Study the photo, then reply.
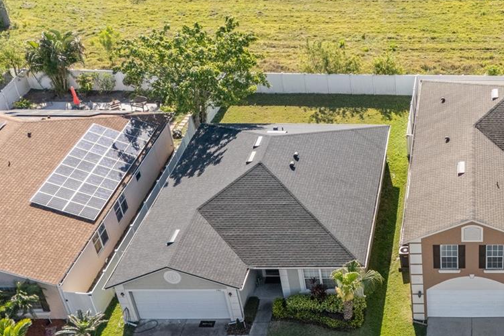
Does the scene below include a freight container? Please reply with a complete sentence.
No, there isn't any freight container down there.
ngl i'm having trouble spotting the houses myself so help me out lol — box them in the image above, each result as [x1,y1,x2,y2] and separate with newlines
[399,81,504,320]
[103,124,392,327]
[0,110,174,324]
